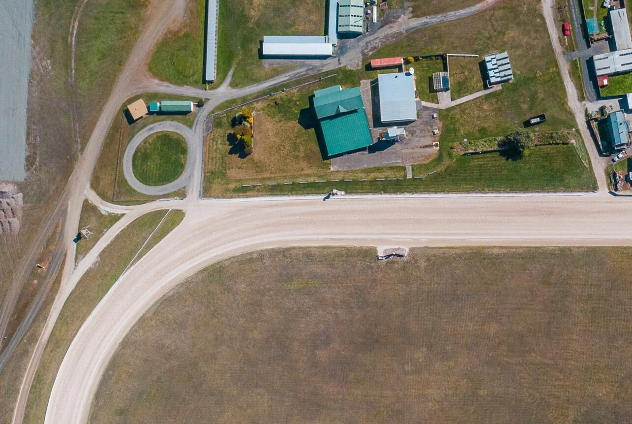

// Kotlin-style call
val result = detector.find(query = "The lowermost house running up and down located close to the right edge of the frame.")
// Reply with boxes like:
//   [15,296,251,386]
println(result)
[610,111,629,146]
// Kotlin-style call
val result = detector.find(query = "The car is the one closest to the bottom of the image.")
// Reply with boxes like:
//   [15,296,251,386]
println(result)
[611,150,627,163]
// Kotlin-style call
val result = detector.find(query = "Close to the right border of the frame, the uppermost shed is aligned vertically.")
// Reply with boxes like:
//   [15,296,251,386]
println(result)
[610,8,632,50]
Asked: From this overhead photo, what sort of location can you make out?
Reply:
sports ground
